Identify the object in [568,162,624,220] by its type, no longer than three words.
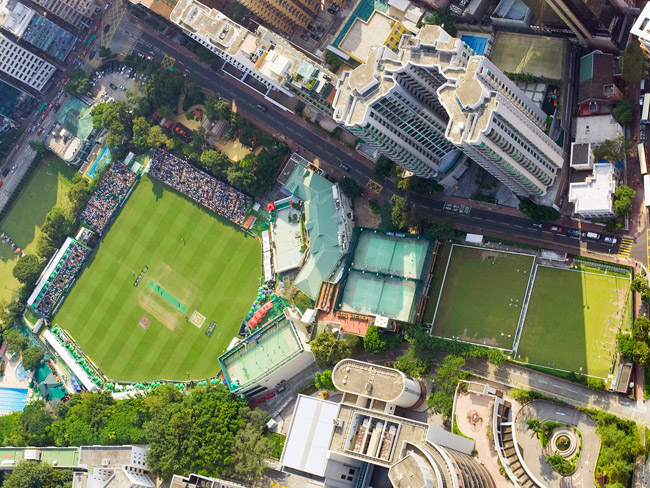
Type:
house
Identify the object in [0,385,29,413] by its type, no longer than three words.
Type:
swimming pool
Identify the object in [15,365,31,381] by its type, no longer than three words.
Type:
swimming pool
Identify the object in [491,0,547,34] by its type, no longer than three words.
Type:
building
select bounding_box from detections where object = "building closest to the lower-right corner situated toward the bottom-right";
[616,366,636,394]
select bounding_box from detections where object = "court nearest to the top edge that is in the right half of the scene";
[489,29,569,79]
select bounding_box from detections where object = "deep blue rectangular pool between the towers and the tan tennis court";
[458,32,491,56]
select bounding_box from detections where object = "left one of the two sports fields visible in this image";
[0,164,74,320]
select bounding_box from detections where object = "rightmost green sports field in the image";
[49,177,264,385]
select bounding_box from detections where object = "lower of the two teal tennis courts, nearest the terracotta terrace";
[335,270,418,322]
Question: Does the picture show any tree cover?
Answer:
Yes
